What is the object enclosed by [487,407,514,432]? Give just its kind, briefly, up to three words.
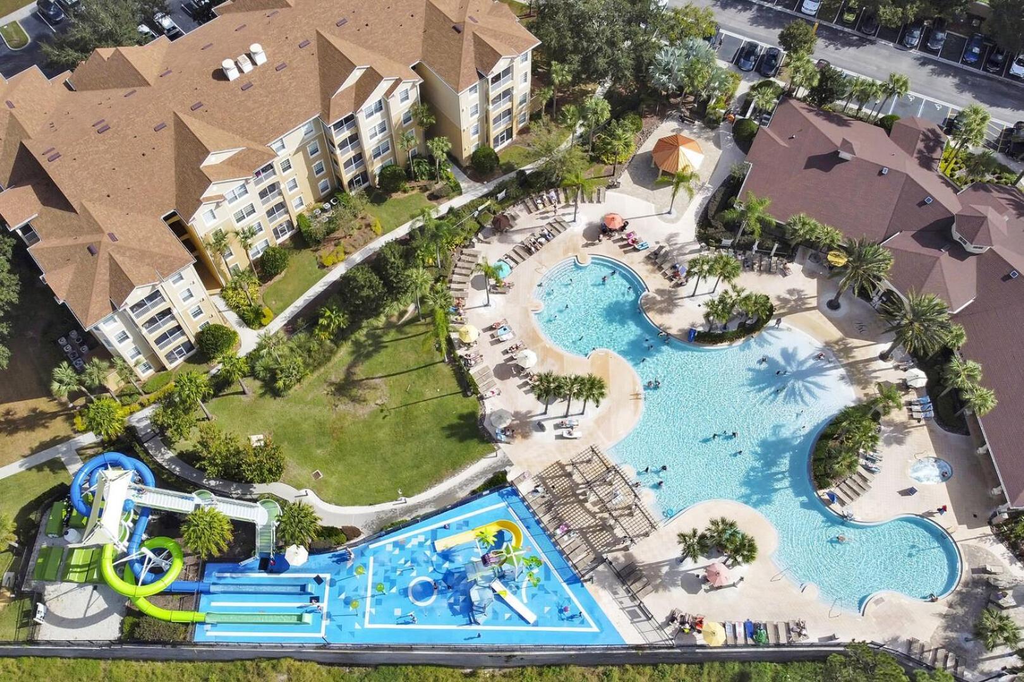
umbrella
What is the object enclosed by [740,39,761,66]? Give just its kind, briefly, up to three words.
car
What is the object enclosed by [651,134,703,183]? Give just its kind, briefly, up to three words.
gazebo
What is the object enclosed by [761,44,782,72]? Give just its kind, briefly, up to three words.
car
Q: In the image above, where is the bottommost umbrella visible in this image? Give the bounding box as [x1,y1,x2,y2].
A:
[698,619,728,650]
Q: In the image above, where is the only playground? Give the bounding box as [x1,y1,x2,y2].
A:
[437,517,537,625]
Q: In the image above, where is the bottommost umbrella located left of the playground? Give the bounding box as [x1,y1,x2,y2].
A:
[283,543,311,571]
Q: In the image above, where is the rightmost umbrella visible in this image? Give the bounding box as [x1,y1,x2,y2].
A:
[900,366,929,393]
